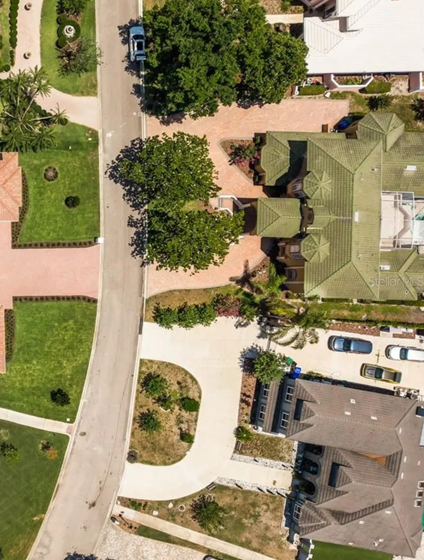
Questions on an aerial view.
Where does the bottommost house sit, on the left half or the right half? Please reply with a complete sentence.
The bottommost house appears in the right half of the scene.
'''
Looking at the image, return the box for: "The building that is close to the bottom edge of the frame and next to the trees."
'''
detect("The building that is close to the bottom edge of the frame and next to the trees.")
[254,377,424,560]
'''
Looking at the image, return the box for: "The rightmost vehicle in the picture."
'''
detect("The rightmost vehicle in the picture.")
[385,344,424,363]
